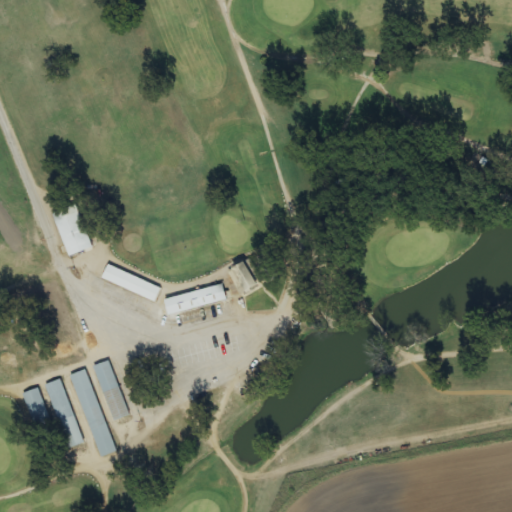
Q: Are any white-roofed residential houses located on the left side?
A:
Yes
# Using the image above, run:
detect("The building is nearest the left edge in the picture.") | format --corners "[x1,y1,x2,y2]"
[23,387,57,438]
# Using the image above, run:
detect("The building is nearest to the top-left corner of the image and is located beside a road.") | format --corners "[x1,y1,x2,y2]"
[54,209,92,255]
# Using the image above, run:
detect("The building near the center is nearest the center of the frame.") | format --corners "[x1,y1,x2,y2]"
[230,262,258,293]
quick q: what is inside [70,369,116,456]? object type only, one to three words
barn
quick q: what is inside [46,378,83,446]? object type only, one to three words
barn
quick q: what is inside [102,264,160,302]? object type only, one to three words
shed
